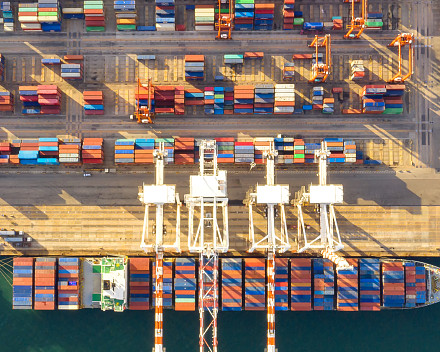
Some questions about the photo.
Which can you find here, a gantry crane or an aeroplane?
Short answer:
gantry crane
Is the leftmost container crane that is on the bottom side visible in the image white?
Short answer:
Yes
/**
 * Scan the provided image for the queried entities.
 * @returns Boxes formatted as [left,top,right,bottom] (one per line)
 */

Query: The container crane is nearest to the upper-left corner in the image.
[134,76,155,123]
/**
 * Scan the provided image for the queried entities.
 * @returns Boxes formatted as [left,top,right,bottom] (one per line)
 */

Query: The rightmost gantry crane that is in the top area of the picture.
[388,34,415,84]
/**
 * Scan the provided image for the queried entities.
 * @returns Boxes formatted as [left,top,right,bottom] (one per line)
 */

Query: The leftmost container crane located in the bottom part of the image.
[132,133,182,352]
